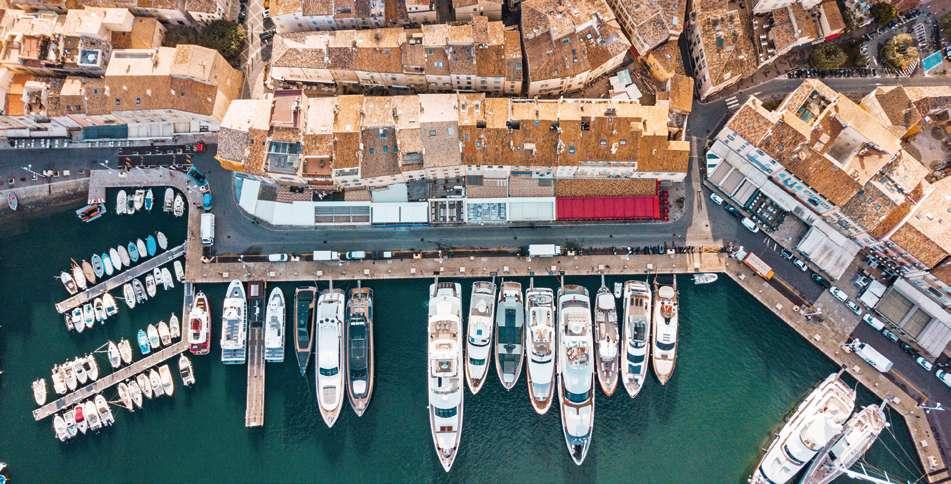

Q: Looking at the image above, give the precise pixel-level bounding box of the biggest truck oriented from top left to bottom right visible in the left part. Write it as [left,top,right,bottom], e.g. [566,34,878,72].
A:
[185,164,208,190]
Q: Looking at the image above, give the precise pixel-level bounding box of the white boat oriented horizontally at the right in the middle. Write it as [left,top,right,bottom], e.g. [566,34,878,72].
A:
[691,272,719,284]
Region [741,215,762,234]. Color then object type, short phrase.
white vehicle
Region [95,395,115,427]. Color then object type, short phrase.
white boat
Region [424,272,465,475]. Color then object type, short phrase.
white boat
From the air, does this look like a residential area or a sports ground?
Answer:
residential area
